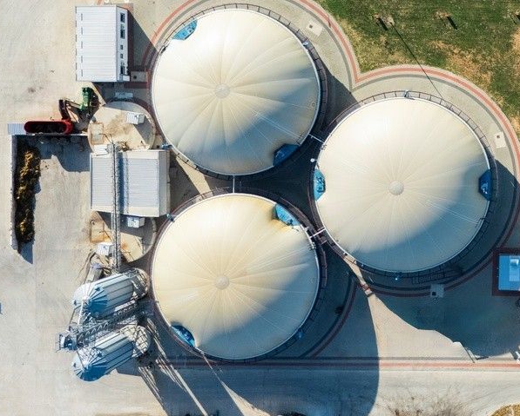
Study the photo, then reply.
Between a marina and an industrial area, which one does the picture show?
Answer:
industrial area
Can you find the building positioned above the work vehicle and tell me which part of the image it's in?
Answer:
top left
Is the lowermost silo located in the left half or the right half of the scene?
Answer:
left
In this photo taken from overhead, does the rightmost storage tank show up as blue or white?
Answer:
white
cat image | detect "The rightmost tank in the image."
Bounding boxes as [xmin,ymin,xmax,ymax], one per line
[309,92,496,279]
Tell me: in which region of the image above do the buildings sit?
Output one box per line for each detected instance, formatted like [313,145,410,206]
[76,5,134,83]
[90,151,169,216]
[499,254,520,292]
